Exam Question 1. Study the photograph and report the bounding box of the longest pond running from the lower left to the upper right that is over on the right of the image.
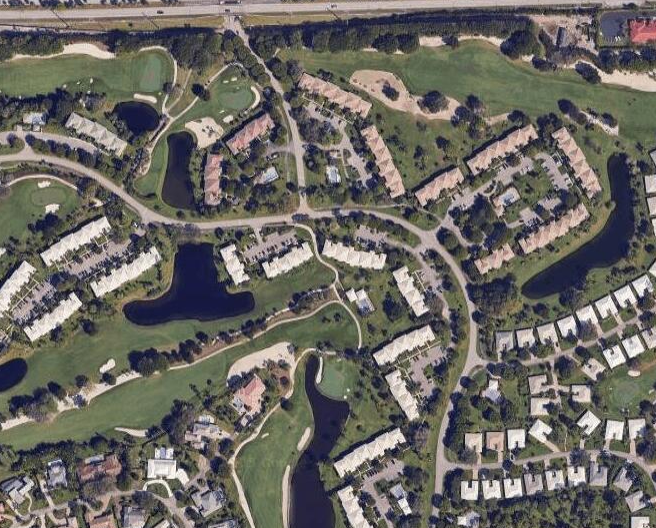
[521,151,635,299]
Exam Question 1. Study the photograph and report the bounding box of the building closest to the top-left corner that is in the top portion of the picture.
[17,111,45,130]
